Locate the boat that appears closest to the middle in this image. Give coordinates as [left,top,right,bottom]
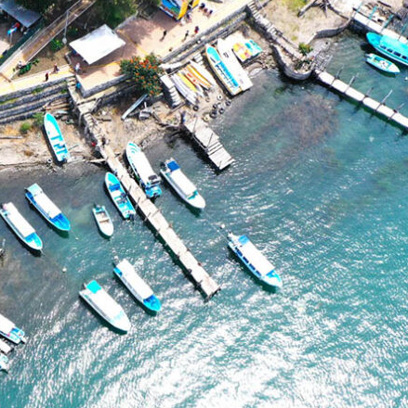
[157,155,205,209]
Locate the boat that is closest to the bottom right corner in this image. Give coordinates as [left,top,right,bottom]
[223,230,282,288]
